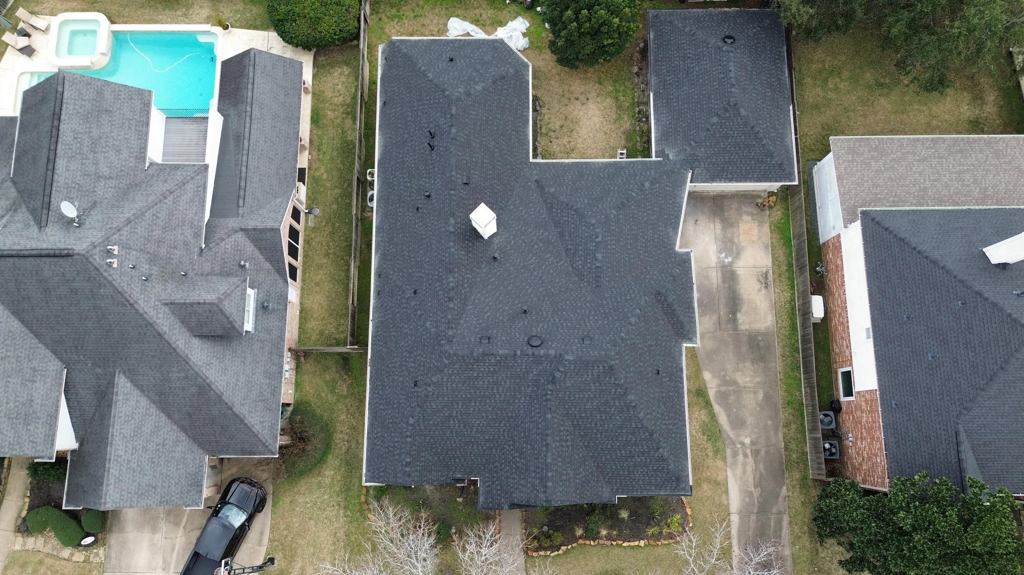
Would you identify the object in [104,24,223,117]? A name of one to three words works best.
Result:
swimming pool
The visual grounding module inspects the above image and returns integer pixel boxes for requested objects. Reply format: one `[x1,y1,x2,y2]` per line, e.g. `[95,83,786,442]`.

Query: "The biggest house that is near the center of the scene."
[361,8,799,510]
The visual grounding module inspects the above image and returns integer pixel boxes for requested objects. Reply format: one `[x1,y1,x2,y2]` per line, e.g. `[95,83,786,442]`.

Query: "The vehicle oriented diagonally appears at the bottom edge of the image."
[179,477,269,575]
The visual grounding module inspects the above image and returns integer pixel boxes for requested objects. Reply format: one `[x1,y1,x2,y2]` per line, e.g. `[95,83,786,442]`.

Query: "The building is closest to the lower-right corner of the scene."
[812,134,1024,502]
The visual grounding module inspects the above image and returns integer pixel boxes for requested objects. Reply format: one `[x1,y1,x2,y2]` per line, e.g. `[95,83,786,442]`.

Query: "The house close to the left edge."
[0,48,313,511]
